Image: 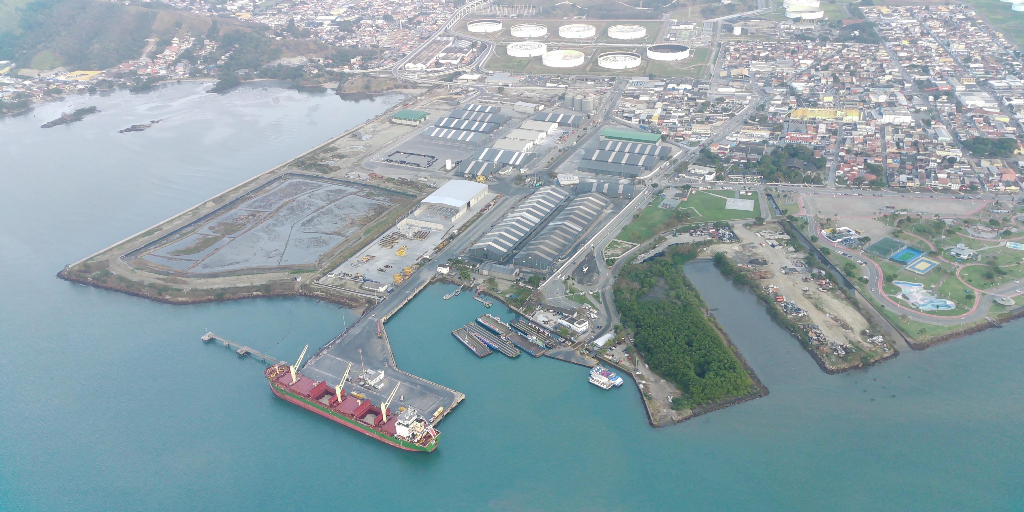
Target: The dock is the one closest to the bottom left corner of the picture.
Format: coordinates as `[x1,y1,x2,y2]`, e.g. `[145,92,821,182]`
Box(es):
[201,332,288,370]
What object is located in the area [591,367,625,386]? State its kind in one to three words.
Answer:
boat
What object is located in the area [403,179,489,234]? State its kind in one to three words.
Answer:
hangar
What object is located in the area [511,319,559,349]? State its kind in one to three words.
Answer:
ship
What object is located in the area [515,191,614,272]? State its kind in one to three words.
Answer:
building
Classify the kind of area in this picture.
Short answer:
port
